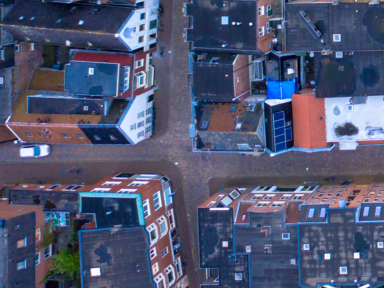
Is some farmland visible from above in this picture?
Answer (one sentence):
No, the picture contains no farmland.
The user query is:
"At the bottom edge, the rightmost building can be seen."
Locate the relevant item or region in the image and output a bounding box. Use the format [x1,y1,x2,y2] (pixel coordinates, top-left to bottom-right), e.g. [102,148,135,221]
[298,182,384,288]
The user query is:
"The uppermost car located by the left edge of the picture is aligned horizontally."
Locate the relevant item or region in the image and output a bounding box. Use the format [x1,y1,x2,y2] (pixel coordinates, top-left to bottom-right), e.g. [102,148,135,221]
[19,144,50,158]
